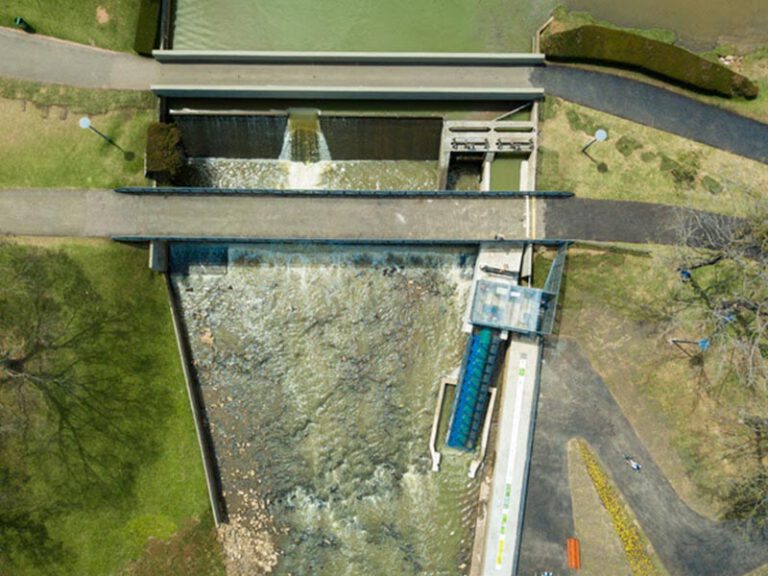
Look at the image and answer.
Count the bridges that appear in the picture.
2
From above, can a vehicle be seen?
No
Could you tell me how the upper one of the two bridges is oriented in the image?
from left to right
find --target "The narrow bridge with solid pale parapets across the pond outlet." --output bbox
[151,51,545,100]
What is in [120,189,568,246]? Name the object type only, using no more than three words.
bridge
